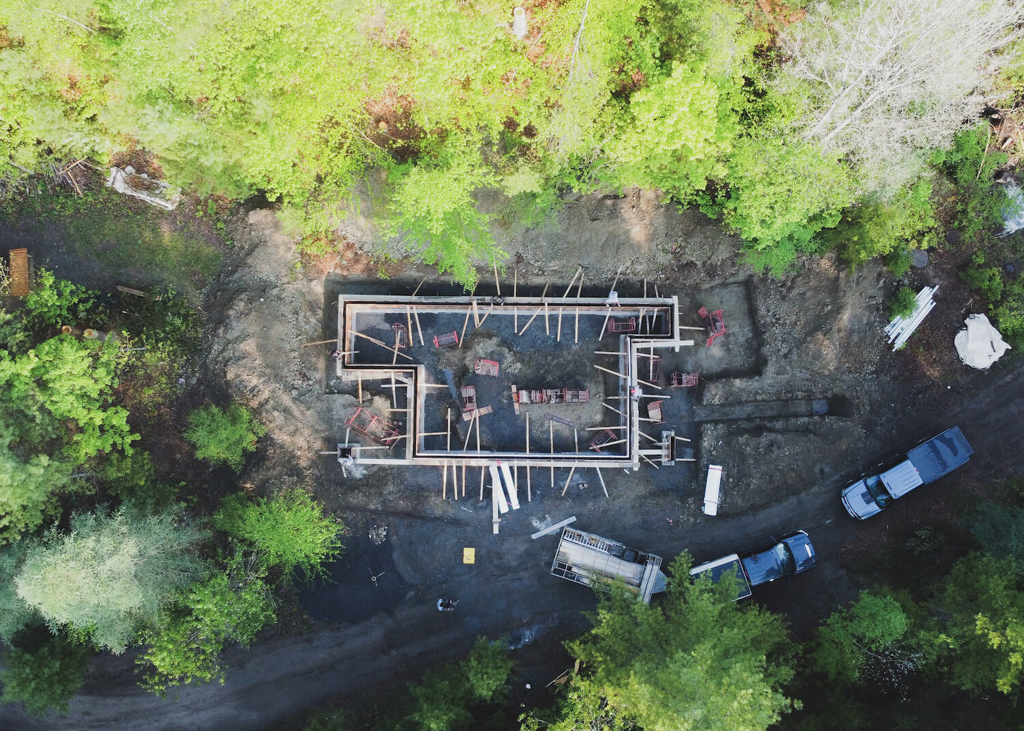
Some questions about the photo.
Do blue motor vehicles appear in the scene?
Yes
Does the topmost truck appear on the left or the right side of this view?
right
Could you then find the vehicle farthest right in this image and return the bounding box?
[850,434,972,517]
